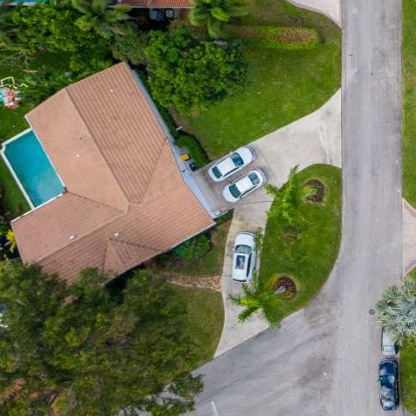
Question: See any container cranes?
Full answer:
No, the frame has no container crane in it.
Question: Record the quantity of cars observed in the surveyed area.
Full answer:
The picture shows 5 cars.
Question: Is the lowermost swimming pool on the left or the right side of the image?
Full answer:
It is on the left.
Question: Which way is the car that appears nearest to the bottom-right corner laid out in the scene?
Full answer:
In this picture, the car that appears nearest to the bottom-right corner lies vertically.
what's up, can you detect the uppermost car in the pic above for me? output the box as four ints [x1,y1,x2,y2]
[206,145,257,183]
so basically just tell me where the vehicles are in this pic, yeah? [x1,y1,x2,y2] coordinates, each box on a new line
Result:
[206,145,257,183]
[376,358,400,411]
[230,231,257,281]
[375,305,400,355]
[220,169,270,203]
